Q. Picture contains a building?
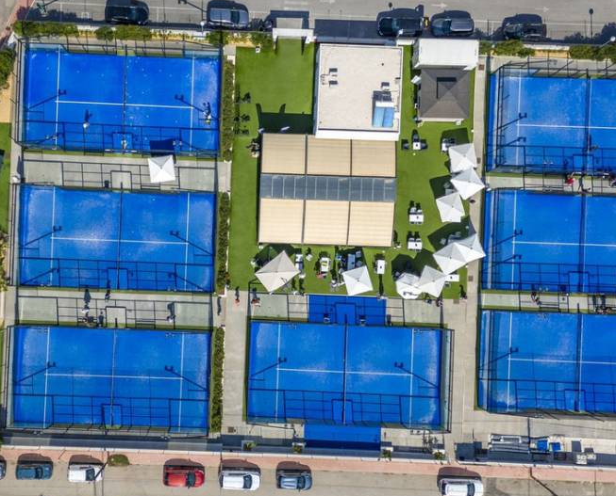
Yes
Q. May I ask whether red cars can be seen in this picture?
Yes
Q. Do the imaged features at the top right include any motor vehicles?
Yes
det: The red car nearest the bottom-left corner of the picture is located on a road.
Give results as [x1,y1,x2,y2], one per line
[163,467,206,490]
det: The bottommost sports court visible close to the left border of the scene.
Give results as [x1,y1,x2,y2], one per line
[1,320,218,442]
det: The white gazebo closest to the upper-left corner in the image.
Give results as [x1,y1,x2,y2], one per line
[149,155,177,184]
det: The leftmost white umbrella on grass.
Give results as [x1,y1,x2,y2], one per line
[255,251,299,291]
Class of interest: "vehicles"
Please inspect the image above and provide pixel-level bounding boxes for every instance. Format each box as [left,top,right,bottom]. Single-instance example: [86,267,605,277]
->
[220,468,262,492]
[163,467,206,490]
[376,12,424,37]
[206,5,250,29]
[438,479,484,496]
[501,18,549,43]
[277,471,313,493]
[15,461,54,484]
[430,14,476,38]
[104,2,150,26]
[67,463,104,484]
